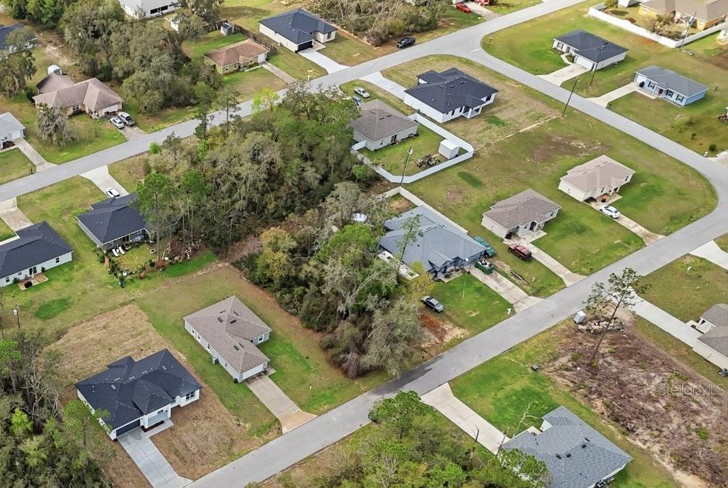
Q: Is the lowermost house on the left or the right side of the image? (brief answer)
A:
right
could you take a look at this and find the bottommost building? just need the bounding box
[502,405,632,488]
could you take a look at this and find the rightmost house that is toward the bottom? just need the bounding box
[694,303,728,368]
